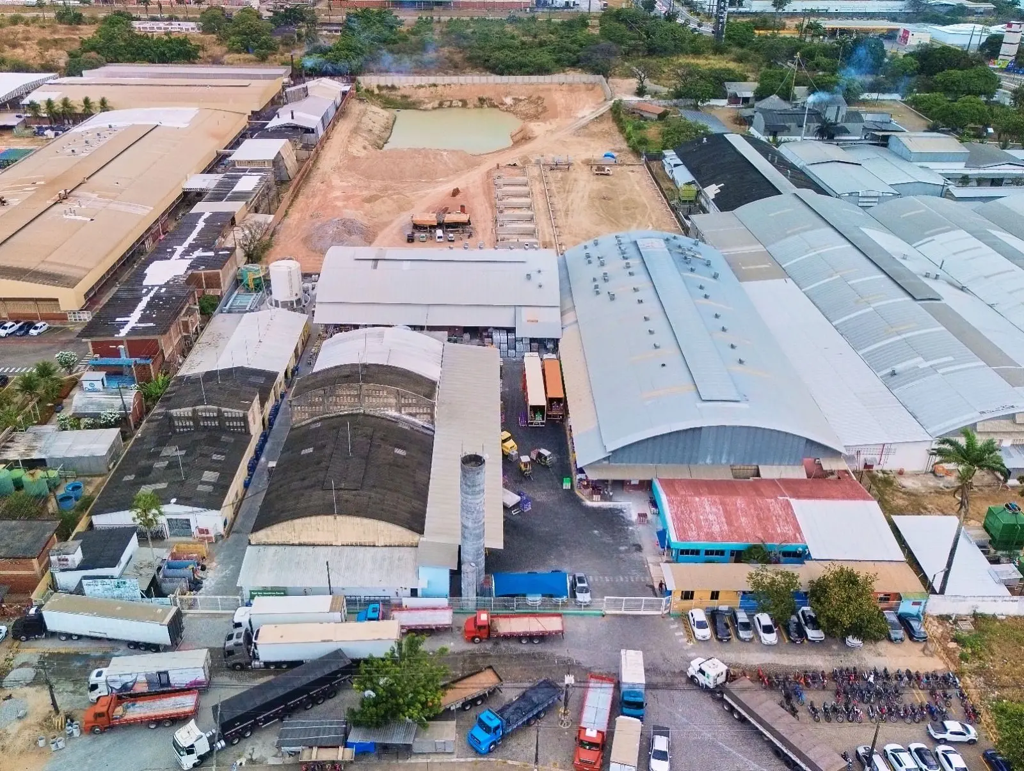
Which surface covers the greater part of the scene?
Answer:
buildings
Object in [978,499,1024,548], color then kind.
green cooling tower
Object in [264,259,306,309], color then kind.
white storage tank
